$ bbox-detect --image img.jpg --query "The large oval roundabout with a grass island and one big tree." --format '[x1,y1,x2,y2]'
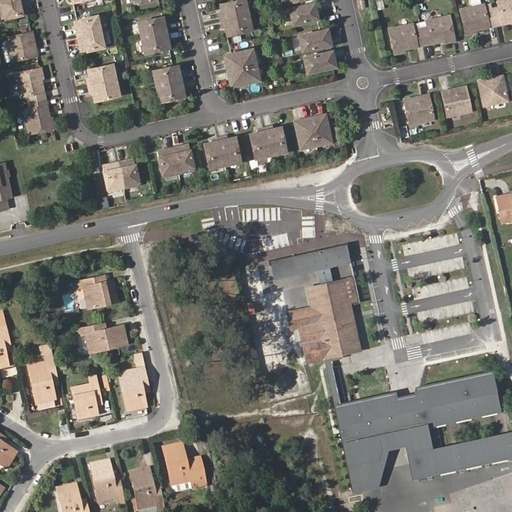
[341,152,455,228]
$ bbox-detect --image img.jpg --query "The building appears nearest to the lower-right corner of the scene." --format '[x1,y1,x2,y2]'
[326,360,512,494]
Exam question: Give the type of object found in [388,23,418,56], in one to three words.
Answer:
house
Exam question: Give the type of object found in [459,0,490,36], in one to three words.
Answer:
house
